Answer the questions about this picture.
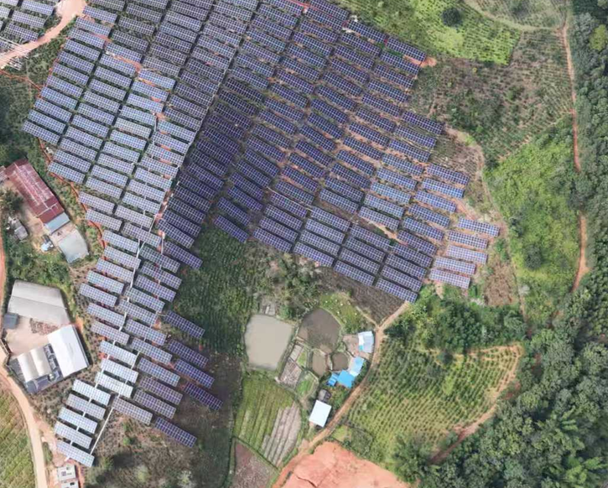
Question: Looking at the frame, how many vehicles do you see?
none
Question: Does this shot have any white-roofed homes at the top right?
No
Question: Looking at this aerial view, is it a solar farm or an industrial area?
solar farm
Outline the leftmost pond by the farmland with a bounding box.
[245,314,295,370]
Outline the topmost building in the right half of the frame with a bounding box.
[356,332,374,353]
